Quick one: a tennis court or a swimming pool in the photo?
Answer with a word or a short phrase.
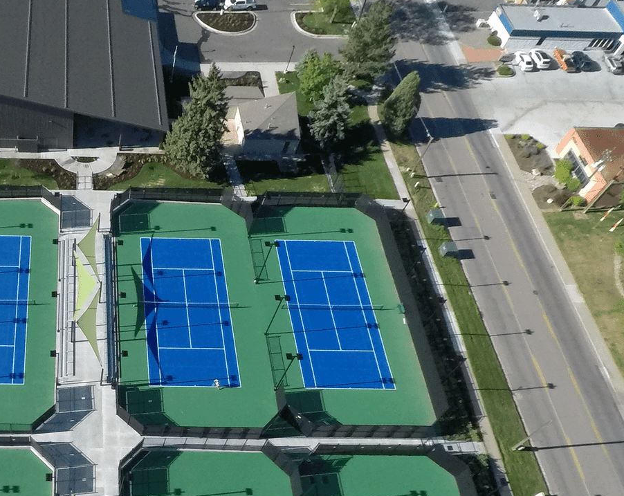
tennis court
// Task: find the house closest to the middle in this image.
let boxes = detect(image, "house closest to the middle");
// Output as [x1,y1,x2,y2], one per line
[215,86,302,153]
